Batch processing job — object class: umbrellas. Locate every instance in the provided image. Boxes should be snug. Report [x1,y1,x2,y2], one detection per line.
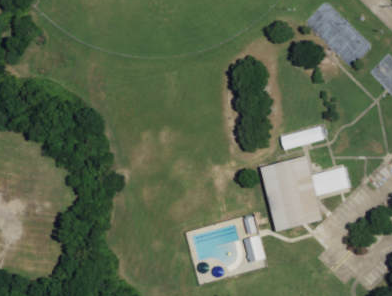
[197,263,208,274]
[212,266,223,278]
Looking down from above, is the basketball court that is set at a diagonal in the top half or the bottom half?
top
